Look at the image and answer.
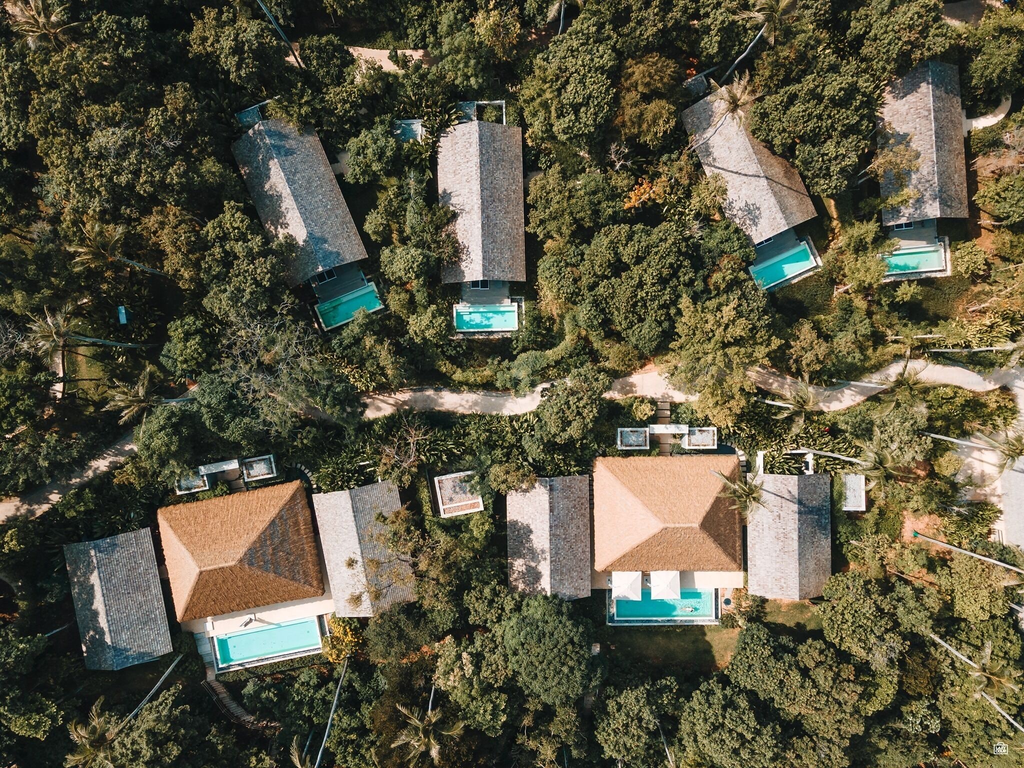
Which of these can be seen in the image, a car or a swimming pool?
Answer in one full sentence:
It is a swimming pool that can be seen here.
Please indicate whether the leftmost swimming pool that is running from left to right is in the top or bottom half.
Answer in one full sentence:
It is in the bottom half that the leftmost swimming pool that is running from left to right appears.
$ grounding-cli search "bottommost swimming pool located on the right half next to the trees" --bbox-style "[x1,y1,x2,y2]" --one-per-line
[614,586,714,619]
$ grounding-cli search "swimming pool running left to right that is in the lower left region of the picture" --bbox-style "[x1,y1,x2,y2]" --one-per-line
[213,613,324,667]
